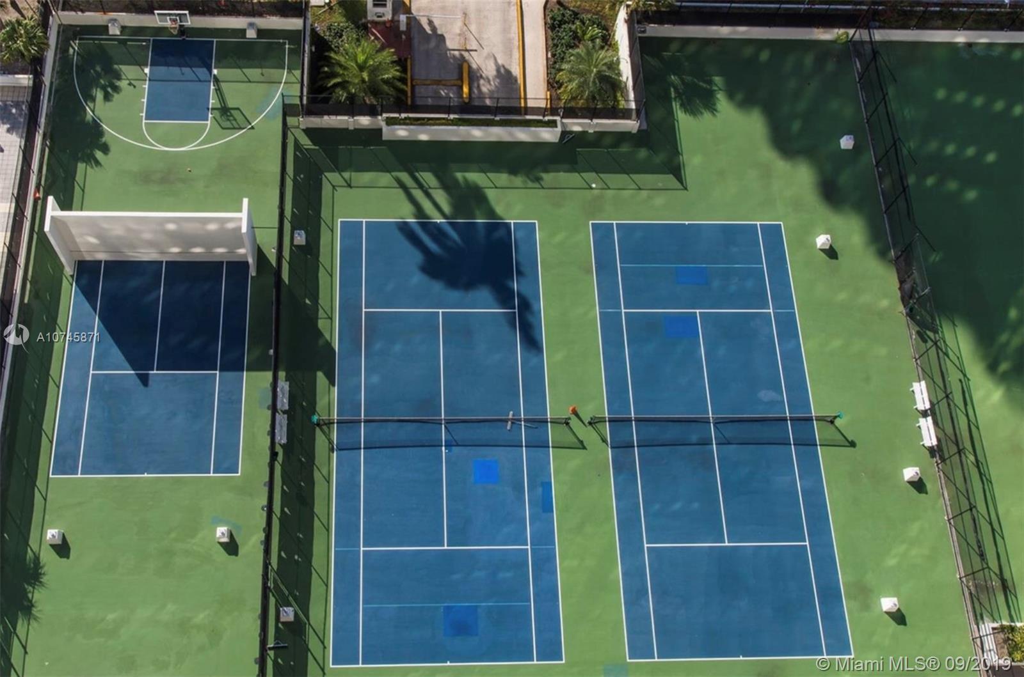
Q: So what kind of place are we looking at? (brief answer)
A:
sports ground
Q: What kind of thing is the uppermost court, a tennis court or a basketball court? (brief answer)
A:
basketball court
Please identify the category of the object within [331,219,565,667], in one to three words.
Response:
tennis court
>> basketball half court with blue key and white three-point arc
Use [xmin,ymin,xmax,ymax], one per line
[73,36,293,150]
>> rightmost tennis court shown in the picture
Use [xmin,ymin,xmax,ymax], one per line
[590,221,854,662]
